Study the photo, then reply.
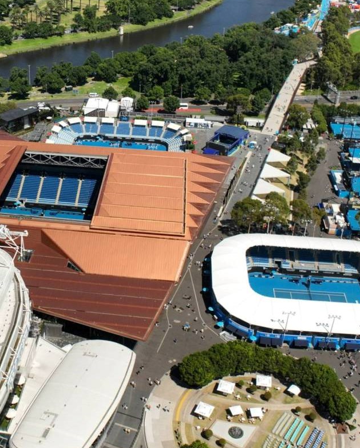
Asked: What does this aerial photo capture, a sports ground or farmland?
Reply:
sports ground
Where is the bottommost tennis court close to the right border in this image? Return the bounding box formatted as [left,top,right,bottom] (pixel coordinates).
[248,272,360,304]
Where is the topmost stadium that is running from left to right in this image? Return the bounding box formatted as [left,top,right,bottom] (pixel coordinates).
[46,116,194,153]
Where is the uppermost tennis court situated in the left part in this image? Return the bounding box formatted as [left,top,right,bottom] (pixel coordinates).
[78,139,168,152]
